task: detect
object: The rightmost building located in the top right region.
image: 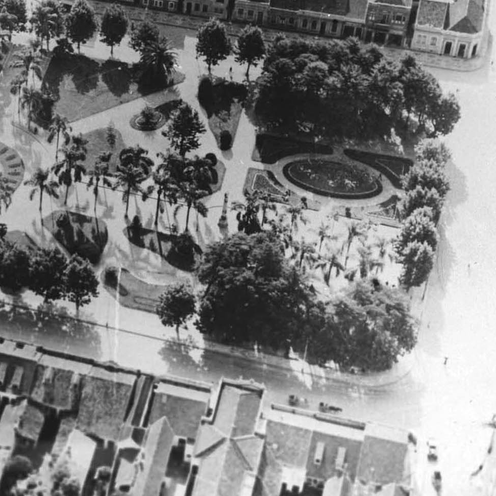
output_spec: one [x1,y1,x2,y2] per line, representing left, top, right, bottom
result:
[442,0,488,58]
